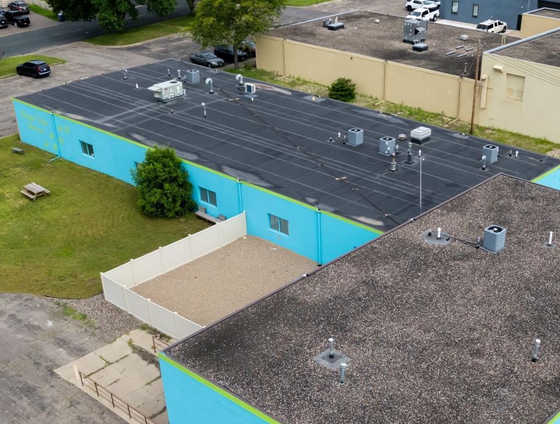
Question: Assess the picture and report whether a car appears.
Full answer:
Yes, there's a car here.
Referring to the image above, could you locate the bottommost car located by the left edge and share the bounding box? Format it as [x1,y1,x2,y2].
[11,55,47,76]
